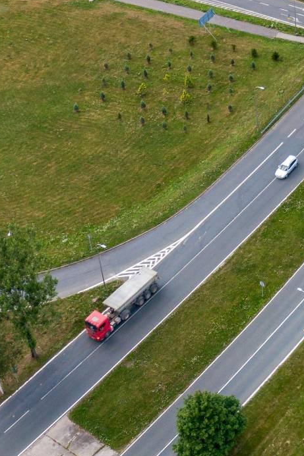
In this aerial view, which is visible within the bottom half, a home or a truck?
truck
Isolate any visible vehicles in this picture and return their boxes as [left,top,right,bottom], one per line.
[274,157,300,179]
[85,270,157,340]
